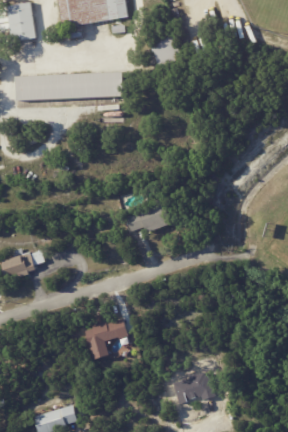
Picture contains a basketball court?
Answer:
No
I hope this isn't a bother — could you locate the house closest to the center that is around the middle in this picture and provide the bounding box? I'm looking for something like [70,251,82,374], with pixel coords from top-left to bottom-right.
[127,208,165,234]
